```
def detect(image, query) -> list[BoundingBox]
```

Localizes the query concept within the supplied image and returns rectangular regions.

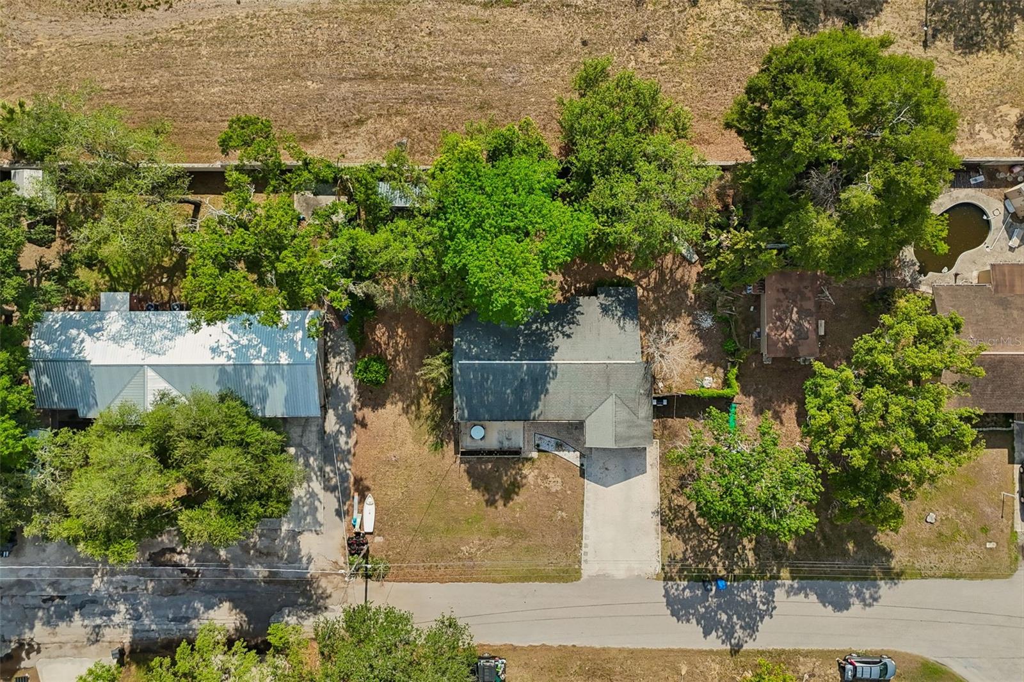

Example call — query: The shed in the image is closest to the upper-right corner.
[991,180,1024,218]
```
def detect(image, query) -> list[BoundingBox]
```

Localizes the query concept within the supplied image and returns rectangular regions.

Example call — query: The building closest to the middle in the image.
[451,287,653,449]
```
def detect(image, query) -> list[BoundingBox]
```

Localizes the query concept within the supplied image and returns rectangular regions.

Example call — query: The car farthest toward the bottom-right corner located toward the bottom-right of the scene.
[838,652,897,682]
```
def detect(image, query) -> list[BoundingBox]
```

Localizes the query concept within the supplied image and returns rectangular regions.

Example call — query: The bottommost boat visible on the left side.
[362,496,374,535]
